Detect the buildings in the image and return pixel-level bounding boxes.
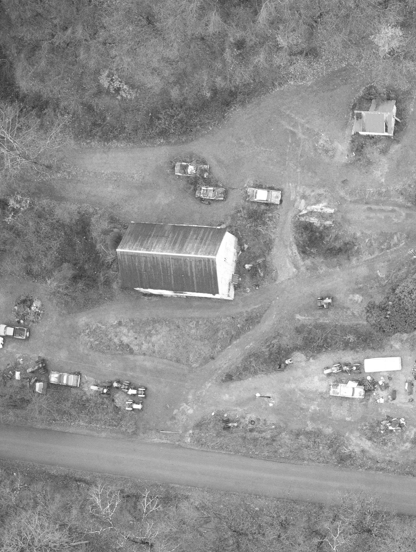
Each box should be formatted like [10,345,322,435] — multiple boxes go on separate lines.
[353,99,400,138]
[116,223,251,298]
